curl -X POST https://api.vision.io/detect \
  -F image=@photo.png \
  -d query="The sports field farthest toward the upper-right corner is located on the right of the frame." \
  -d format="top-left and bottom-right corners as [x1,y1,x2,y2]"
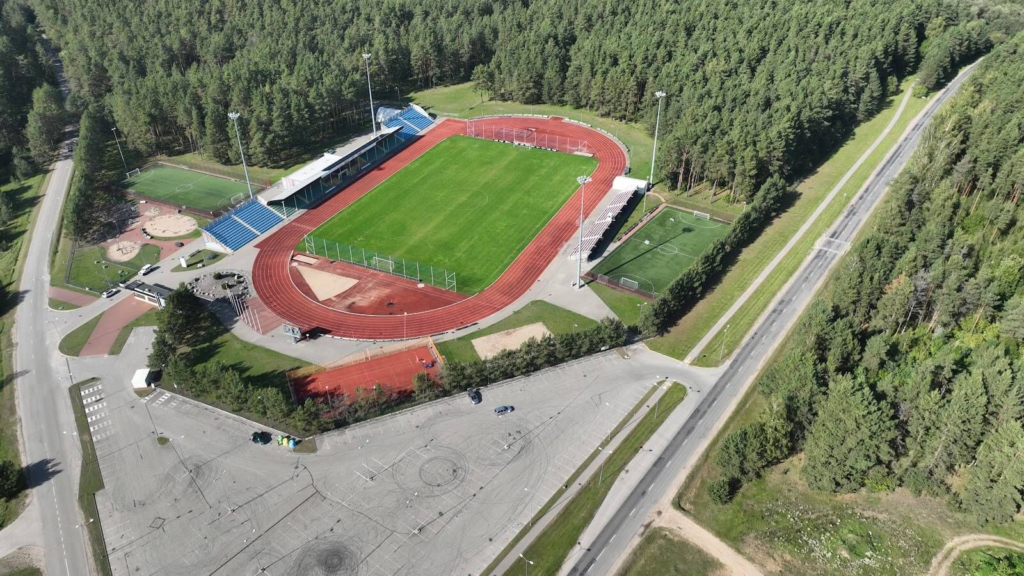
[593,208,723,292]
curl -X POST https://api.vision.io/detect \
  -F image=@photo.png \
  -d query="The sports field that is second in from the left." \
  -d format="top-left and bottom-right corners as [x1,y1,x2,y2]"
[293,133,600,297]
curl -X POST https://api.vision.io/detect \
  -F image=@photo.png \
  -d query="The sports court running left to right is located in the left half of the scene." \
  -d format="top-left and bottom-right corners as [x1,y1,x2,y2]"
[288,344,435,411]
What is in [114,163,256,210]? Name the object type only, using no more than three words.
sports field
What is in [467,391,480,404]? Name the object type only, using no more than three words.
vehicle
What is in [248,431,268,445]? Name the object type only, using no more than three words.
car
